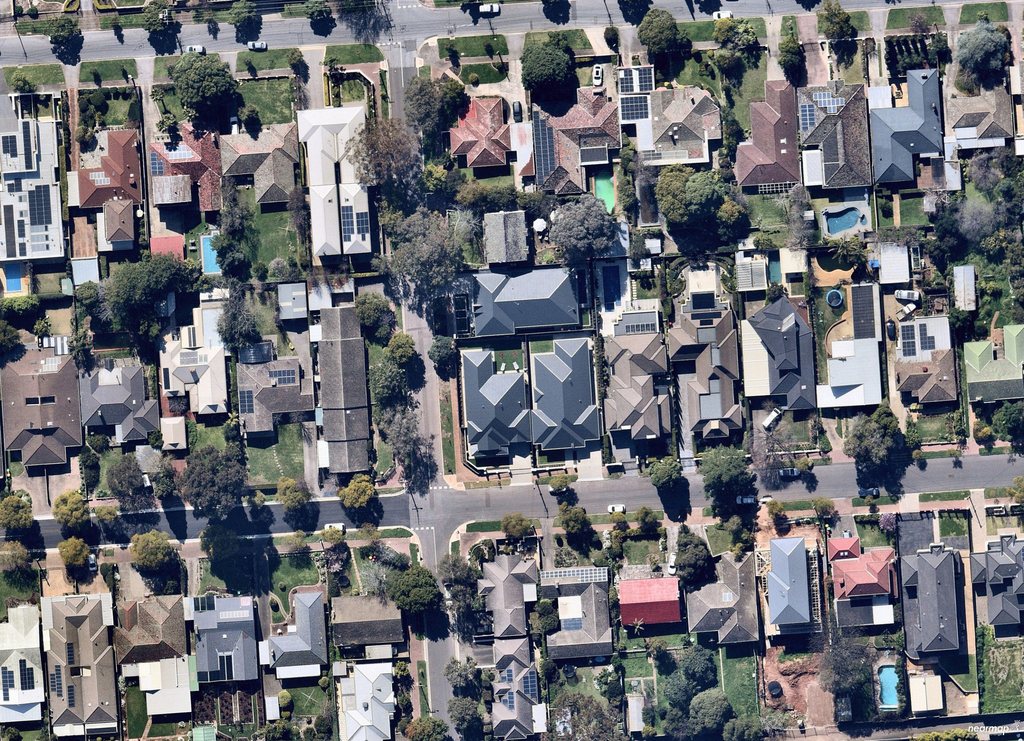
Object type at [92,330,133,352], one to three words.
swimming pool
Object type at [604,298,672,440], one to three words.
house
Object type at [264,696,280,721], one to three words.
shed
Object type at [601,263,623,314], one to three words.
swimming pool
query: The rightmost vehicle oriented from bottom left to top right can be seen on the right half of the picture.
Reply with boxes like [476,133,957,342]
[896,302,917,321]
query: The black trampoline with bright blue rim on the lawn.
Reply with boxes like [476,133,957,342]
[827,290,843,306]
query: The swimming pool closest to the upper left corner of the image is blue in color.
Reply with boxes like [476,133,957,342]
[3,261,23,293]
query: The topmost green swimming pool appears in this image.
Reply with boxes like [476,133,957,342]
[593,170,617,215]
